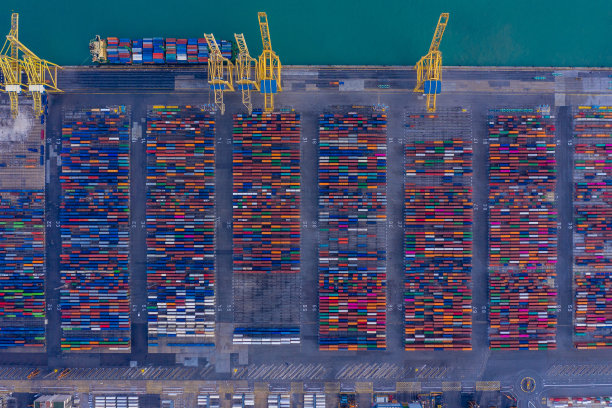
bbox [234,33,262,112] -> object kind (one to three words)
container crane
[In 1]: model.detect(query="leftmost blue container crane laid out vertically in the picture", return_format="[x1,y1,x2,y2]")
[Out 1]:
[257,15,285,111]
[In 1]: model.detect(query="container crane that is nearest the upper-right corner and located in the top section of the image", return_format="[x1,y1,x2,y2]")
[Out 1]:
[411,15,448,111]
